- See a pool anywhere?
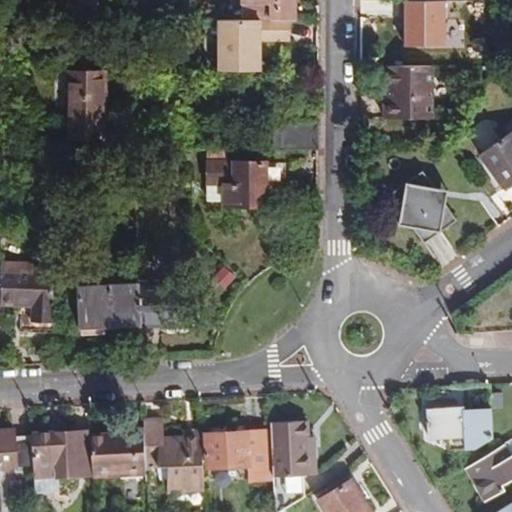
No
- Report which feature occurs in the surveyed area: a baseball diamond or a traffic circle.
traffic circle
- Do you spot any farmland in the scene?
No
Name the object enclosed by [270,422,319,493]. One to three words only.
house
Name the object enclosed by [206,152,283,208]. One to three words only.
house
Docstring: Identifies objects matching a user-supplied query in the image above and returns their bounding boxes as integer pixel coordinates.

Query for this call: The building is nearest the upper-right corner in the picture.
[403,0,448,47]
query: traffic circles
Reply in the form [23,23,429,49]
[254,250,464,412]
